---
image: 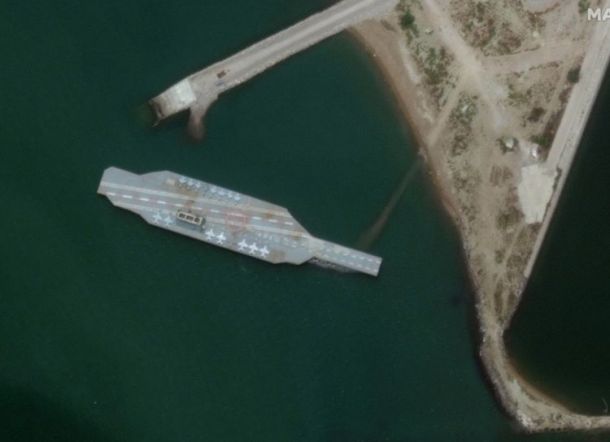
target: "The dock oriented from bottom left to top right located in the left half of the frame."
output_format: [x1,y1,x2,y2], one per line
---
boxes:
[151,78,195,126]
